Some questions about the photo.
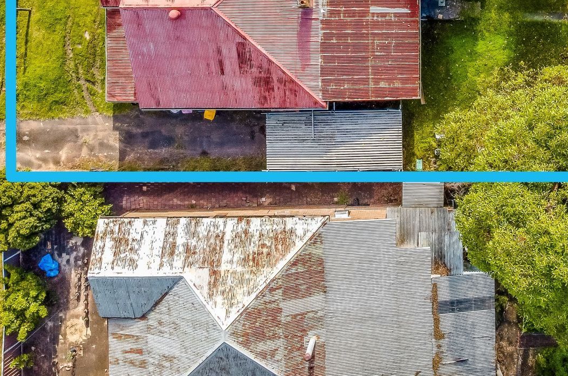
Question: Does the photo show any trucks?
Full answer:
No, the picture doesn't show any truck.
